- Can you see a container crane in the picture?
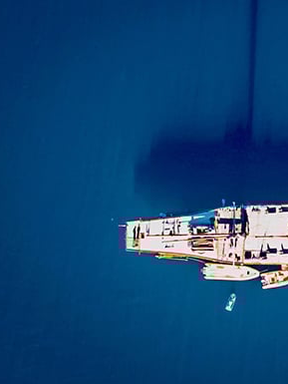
No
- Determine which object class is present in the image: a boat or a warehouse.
boat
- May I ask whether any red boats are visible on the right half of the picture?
No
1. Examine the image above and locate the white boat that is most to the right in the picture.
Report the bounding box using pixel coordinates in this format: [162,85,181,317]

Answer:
[260,271,288,290]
